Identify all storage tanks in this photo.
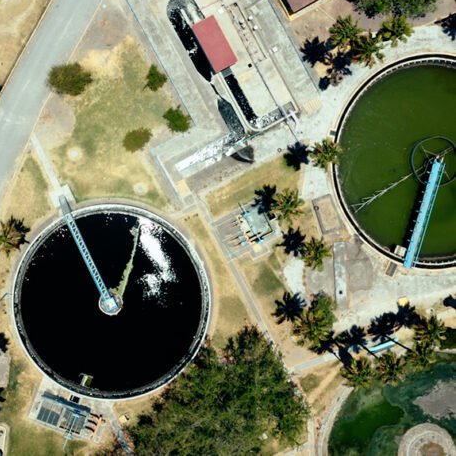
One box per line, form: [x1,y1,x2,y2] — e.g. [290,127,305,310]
[12,203,211,402]
[331,53,456,270]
